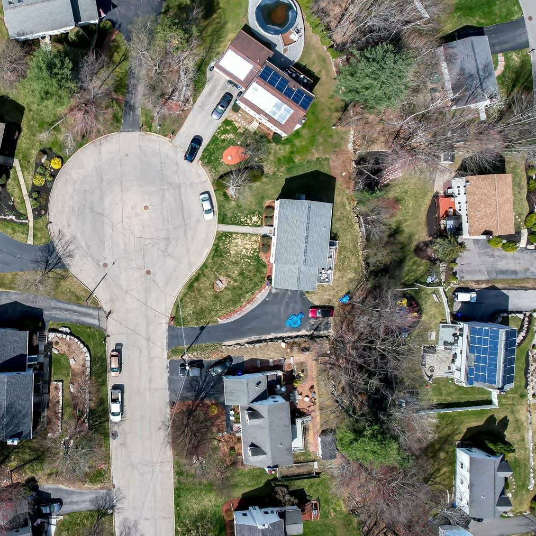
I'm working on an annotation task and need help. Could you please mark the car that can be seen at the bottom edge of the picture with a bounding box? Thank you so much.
[36,502,64,517]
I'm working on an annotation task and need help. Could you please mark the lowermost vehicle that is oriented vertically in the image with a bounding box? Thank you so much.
[110,387,124,420]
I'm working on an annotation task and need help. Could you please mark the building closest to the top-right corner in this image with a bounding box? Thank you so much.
[433,37,500,119]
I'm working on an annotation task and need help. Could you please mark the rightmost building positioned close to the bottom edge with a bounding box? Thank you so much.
[453,449,518,523]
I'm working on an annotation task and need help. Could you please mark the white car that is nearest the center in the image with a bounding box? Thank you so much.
[199,191,214,221]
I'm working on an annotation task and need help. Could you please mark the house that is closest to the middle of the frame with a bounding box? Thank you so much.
[264,199,341,292]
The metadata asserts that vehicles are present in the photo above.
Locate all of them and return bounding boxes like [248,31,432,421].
[211,91,233,120]
[36,502,64,517]
[450,289,479,303]
[109,348,122,375]
[199,191,214,221]
[182,134,204,164]
[110,387,124,420]
[176,362,208,375]
[208,355,234,377]
[307,306,334,318]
